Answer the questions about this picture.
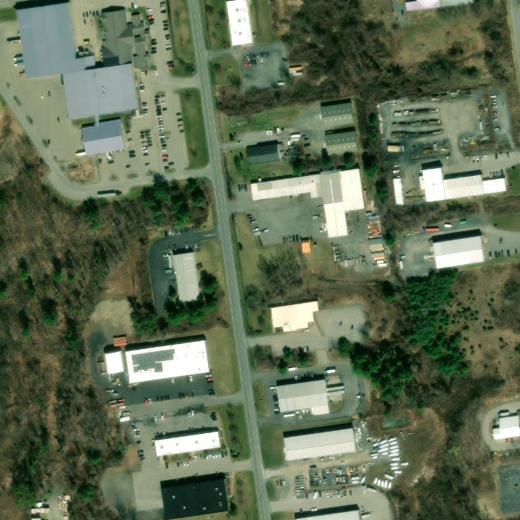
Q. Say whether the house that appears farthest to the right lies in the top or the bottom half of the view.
bottom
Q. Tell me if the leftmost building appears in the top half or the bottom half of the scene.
top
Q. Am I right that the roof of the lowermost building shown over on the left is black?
Yes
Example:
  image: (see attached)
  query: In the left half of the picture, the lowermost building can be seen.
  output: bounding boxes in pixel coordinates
[161,479,230,520]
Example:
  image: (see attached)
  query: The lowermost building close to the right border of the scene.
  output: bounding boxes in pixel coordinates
[493,411,520,440]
